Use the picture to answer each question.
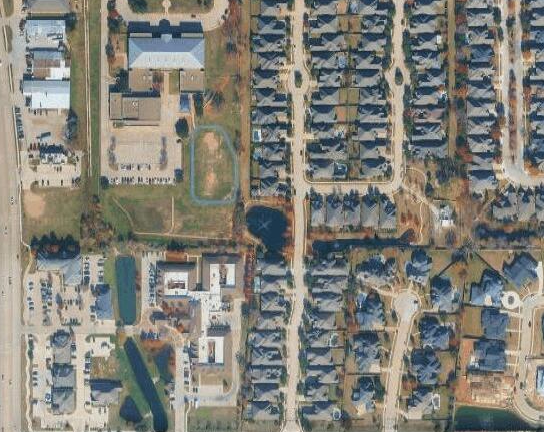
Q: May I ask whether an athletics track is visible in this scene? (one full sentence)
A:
Yes, you can see an athletics track in this photo.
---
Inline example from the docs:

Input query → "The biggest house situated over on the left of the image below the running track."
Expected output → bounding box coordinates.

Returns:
[155,253,243,371]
